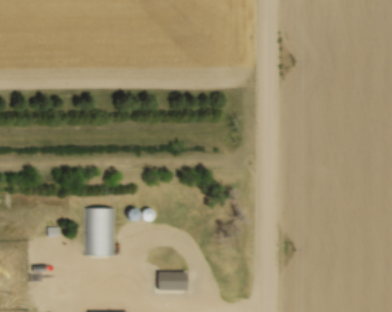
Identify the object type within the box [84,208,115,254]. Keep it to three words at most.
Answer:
barn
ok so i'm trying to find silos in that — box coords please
[126,208,142,222]
[141,208,156,222]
